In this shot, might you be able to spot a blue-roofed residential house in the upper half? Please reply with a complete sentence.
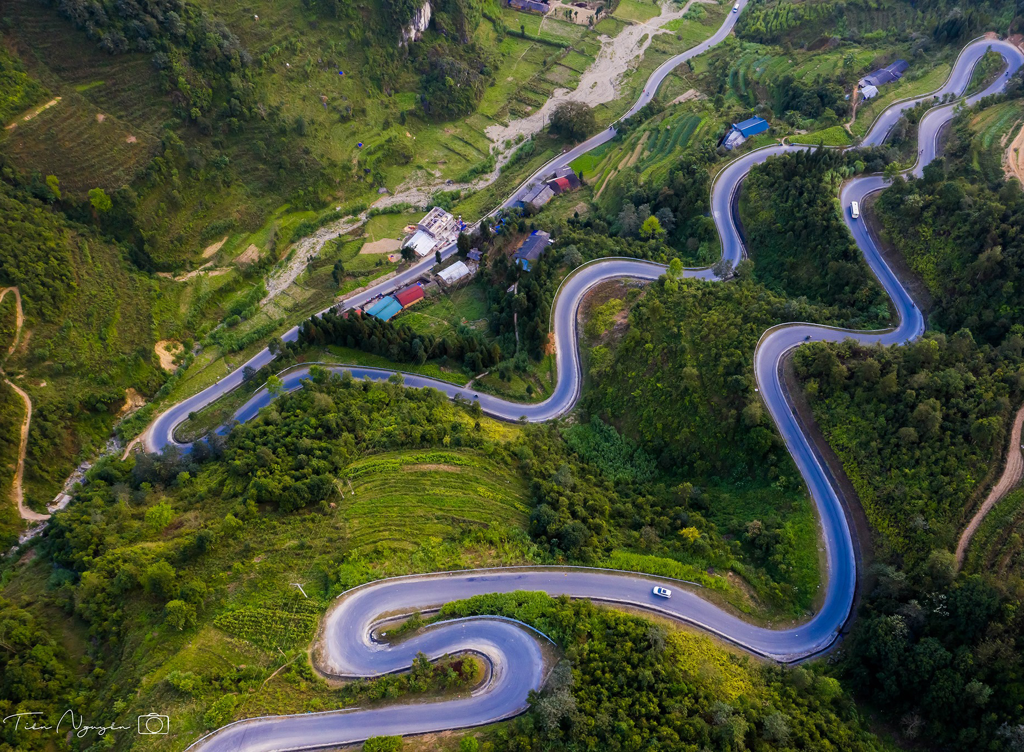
Yes, a blue-roofed residential house is visible in the upper half.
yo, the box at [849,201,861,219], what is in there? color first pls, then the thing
white vehicle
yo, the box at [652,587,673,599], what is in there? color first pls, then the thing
white vehicle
